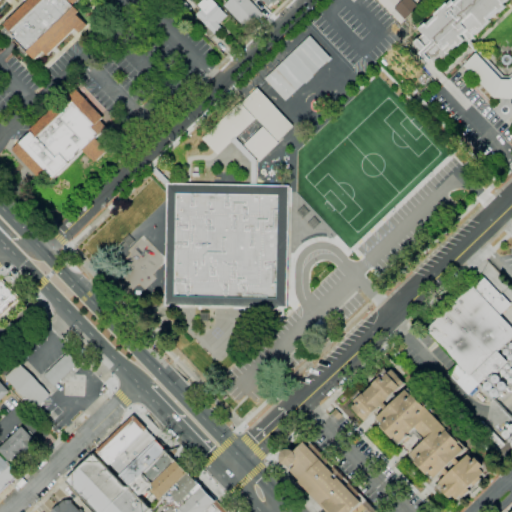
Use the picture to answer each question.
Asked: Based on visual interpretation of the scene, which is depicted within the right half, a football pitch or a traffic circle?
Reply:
football pitch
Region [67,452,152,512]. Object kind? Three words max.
building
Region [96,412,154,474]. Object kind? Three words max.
building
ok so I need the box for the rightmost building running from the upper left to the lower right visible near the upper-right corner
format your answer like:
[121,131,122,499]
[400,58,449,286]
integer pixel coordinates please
[463,51,512,100]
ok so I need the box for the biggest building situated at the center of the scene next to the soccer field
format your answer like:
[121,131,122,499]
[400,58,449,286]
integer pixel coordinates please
[166,184,292,306]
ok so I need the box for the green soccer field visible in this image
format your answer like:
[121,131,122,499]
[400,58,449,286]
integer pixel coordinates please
[298,77,452,247]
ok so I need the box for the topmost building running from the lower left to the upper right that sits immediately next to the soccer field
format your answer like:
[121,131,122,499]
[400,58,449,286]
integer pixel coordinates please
[418,0,510,62]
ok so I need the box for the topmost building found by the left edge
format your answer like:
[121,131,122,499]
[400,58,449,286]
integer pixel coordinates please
[3,0,86,57]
